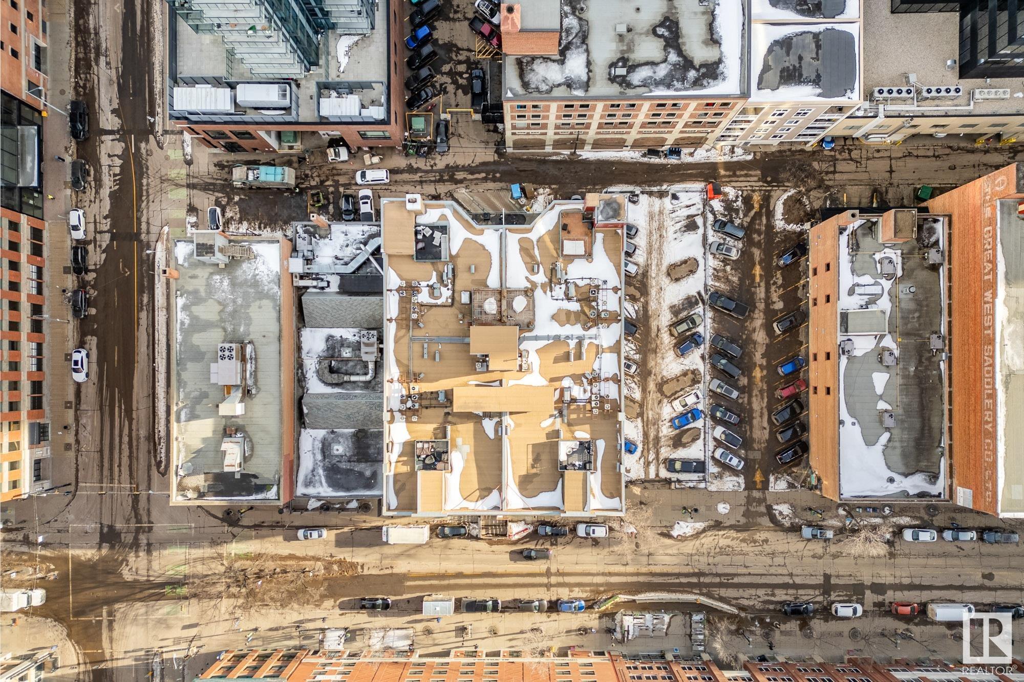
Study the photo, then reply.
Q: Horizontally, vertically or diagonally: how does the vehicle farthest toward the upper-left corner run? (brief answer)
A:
vertically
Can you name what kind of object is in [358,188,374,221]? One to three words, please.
vehicle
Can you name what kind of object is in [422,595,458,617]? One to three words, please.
trailer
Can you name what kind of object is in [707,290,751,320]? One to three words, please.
truck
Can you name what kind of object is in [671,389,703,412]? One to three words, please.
car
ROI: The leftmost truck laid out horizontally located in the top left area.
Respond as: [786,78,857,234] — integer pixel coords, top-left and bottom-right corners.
[228,164,297,186]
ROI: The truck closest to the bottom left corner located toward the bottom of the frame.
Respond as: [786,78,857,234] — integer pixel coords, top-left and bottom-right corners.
[0,589,51,615]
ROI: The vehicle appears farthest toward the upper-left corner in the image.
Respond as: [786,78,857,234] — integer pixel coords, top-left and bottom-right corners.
[68,100,88,141]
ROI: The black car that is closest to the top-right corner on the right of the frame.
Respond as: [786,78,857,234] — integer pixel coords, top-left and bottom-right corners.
[775,241,808,269]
